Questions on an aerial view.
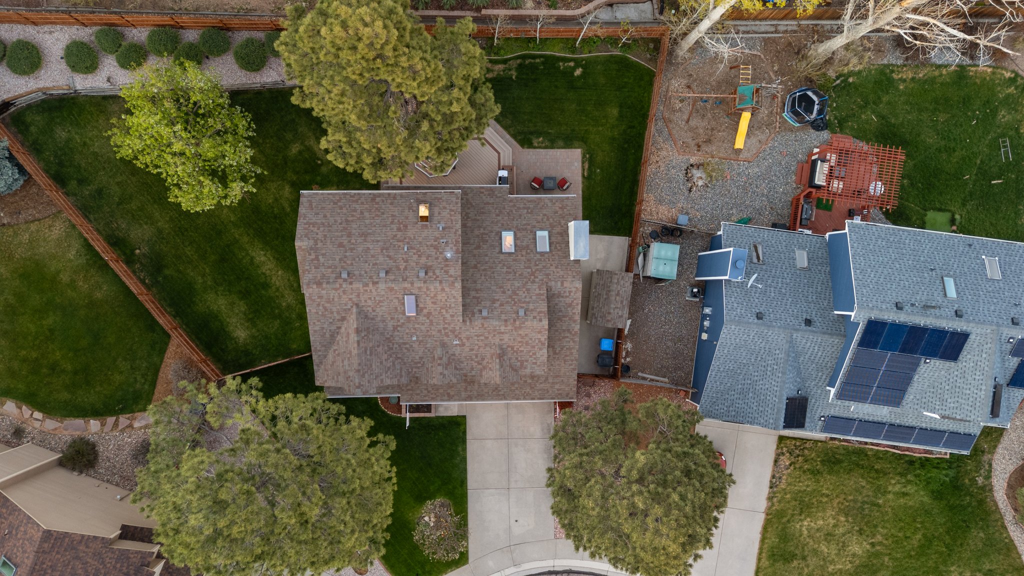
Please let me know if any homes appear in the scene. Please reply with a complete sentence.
Yes, a home is visible in the scene.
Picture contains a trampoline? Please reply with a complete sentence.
Yes, the frame does contain a trampoline.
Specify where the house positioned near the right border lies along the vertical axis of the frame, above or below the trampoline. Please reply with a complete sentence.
It's below the trampoline that the house positioned near the right border shows up.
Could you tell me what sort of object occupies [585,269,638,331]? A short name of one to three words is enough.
shed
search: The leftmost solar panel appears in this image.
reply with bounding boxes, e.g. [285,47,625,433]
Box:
[786,398,810,429]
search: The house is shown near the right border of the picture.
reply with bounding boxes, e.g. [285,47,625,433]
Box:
[687,219,1024,455]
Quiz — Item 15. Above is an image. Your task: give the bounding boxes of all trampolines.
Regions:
[782,79,838,128]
